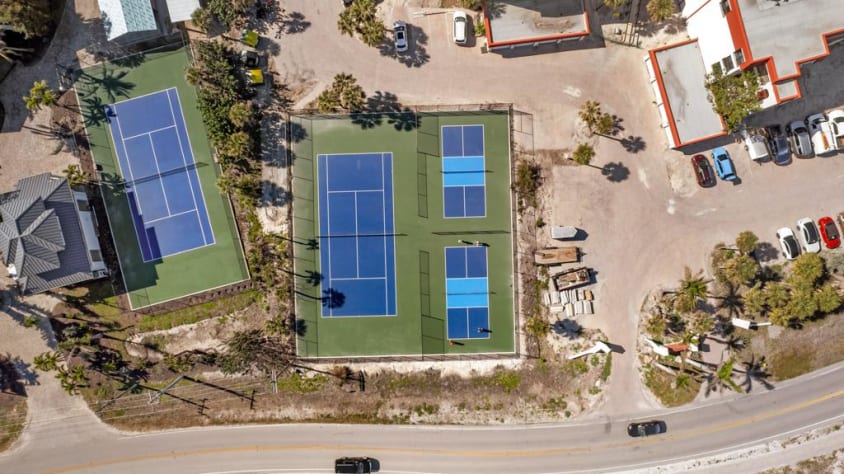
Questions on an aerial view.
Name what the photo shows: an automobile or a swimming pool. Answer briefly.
automobile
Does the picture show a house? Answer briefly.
Yes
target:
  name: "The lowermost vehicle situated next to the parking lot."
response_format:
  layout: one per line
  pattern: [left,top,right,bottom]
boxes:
[627,420,665,438]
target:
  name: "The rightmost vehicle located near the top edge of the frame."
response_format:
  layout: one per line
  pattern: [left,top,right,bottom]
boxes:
[452,12,468,45]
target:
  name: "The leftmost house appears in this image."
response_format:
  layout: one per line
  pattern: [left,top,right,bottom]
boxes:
[0,176,111,297]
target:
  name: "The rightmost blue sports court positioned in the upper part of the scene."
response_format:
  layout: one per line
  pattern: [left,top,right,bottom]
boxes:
[440,124,488,218]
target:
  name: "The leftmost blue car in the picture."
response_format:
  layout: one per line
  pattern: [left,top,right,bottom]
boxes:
[713,148,734,181]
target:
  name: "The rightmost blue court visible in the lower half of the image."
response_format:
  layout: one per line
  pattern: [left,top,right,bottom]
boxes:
[444,246,491,339]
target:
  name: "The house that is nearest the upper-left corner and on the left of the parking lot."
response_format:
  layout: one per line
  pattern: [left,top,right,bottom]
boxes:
[98,0,168,48]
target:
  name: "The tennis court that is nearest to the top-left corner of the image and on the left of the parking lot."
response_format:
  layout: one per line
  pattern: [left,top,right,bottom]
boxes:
[69,45,250,310]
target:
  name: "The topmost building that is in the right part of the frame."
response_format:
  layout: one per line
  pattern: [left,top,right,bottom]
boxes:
[481,0,590,54]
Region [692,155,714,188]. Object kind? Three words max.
car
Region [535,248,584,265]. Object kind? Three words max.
trailer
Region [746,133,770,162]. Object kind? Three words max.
car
